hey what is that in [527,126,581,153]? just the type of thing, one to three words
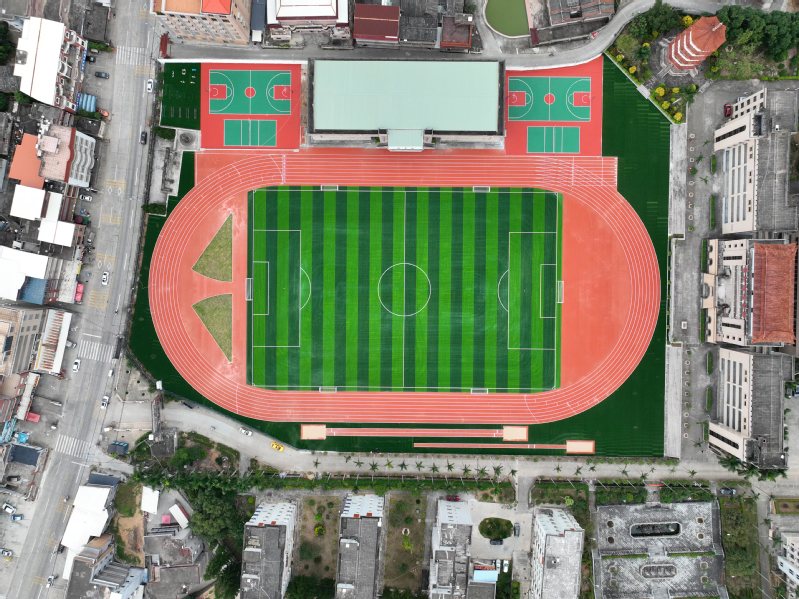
sports court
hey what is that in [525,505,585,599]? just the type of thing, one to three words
building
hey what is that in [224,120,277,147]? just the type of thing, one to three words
sports court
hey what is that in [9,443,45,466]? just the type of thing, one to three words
shed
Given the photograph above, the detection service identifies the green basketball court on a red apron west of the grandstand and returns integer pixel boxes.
[201,64,301,150]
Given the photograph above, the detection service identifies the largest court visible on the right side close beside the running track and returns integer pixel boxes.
[506,55,604,155]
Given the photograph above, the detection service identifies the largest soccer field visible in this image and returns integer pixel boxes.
[247,185,563,393]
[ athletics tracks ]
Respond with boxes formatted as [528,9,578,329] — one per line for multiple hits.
[148,146,661,424]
